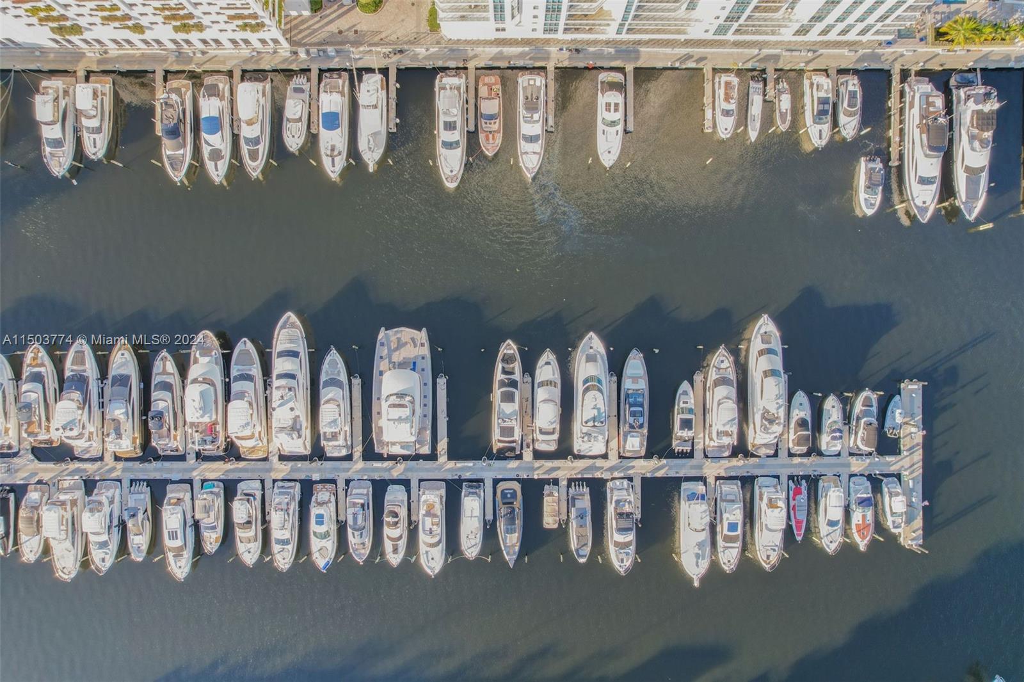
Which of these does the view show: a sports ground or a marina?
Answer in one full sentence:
What you see here is a marina.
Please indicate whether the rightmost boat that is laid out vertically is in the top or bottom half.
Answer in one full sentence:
The rightmost boat that is laid out vertically is in the top half of the image.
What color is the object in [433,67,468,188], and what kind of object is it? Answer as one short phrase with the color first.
white boat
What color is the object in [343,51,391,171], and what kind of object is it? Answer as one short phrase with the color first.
white boat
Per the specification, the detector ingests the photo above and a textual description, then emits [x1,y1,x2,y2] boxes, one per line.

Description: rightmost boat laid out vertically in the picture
[946,67,999,223]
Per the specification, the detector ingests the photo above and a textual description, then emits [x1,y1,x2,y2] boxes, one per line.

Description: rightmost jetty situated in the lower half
[899,382,923,544]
